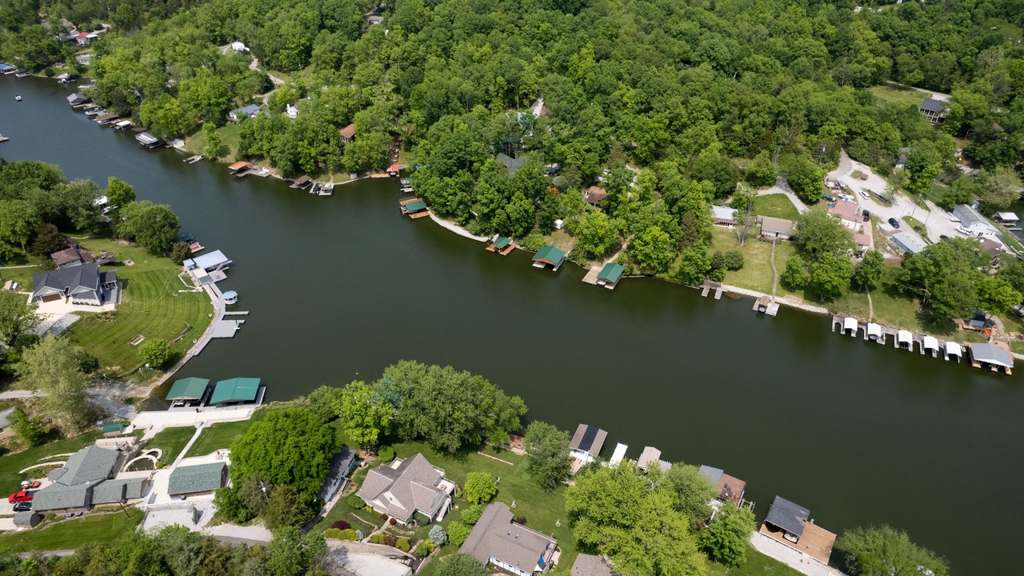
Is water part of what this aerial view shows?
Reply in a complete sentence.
Yes, there is water in the image.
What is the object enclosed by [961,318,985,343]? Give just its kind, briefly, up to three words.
shed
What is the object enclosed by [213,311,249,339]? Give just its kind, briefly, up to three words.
pier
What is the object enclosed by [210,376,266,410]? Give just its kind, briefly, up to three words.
building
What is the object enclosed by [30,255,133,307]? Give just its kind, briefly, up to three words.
house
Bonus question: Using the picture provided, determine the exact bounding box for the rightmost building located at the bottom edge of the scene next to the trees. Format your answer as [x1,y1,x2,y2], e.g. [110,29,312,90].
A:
[762,496,836,561]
